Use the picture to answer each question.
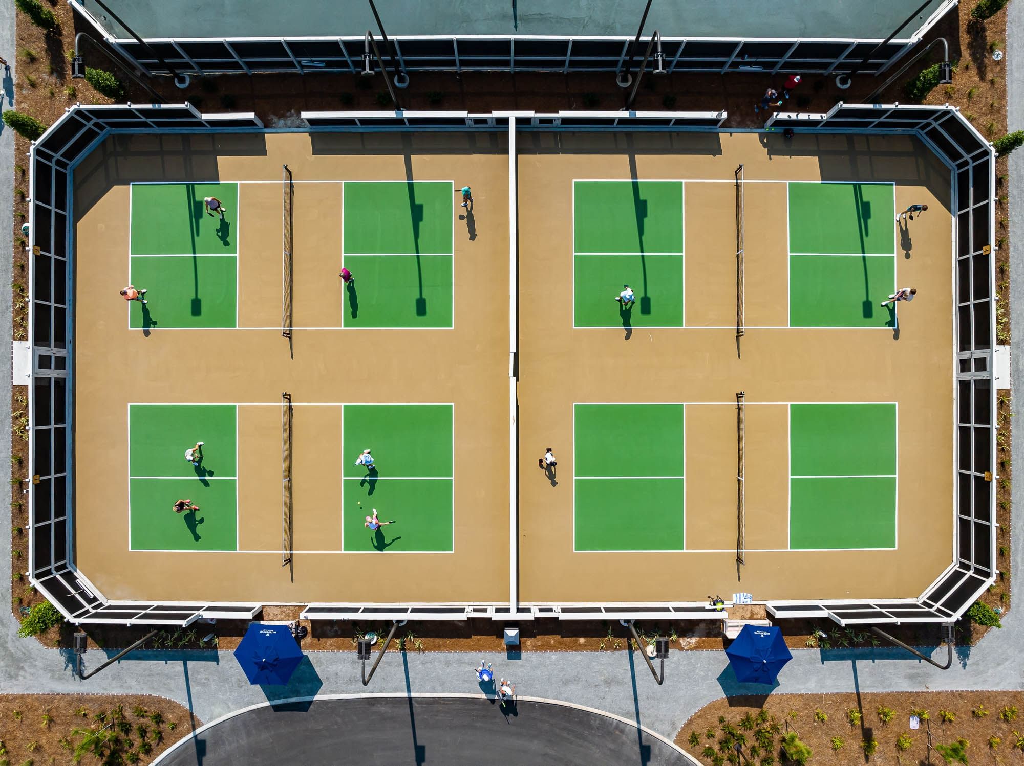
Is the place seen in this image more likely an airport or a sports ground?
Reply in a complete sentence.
It's a sports ground.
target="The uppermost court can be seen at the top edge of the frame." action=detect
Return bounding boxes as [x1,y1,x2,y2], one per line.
[77,0,948,37]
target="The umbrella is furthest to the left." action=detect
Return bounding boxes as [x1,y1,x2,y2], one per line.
[233,624,303,686]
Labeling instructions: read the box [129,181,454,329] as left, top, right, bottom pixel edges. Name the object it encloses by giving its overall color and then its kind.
green sports court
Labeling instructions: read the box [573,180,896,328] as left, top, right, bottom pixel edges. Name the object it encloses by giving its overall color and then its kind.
green sports court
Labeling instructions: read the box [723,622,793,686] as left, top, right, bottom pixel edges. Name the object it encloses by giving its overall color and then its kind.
blue umbrella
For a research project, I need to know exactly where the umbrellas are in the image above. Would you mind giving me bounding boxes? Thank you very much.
[233,624,303,686]
[723,622,793,686]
